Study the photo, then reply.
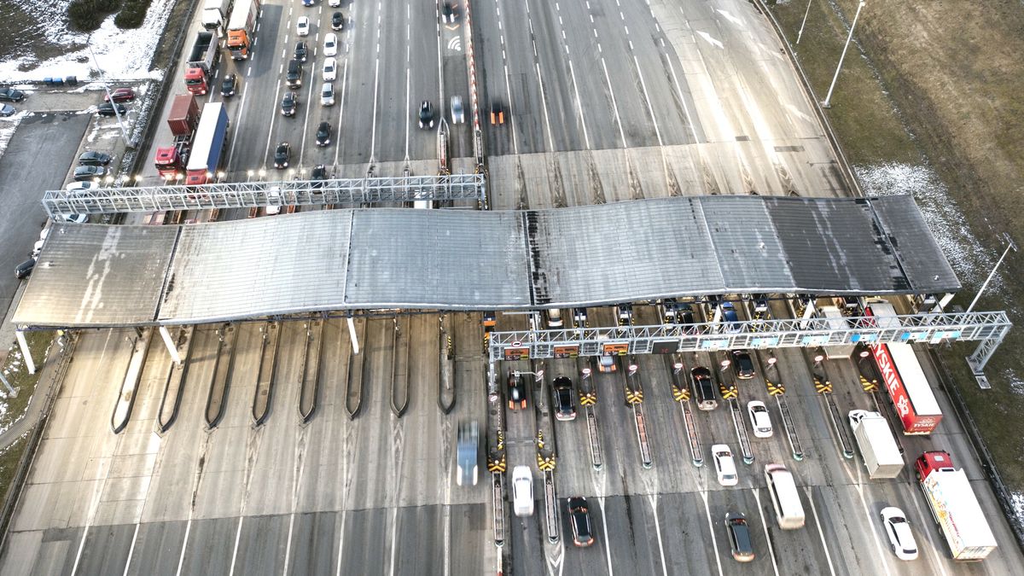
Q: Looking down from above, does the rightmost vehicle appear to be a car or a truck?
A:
truck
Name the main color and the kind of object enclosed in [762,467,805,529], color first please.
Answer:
white van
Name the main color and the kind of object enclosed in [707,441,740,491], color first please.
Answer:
white car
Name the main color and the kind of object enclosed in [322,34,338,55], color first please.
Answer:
white car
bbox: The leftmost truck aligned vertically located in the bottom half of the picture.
[452,423,482,484]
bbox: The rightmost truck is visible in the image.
[902,451,1001,571]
